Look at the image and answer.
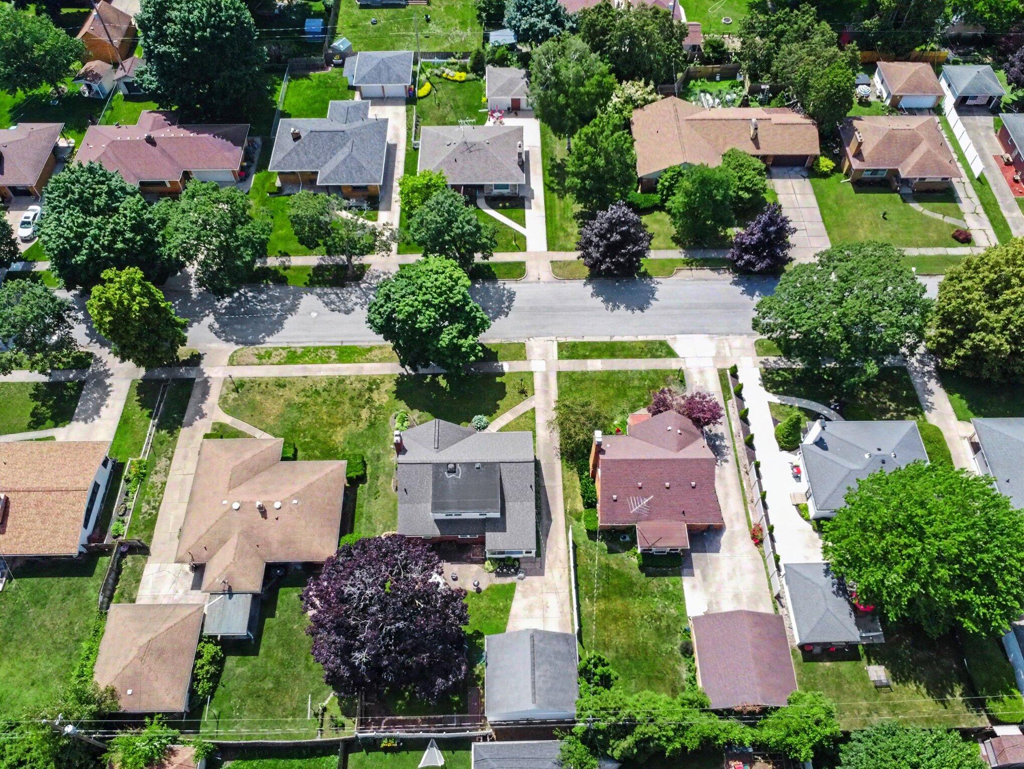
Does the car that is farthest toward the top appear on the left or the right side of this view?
left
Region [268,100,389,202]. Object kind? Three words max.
house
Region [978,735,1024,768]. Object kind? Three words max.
shed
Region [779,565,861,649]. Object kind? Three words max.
building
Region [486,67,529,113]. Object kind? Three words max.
building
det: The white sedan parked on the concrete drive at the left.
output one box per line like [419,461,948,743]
[13,202,39,236]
